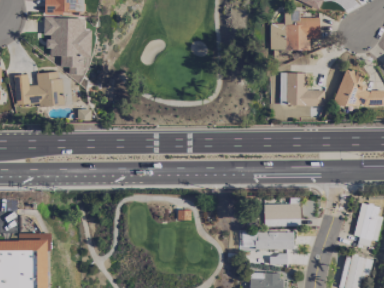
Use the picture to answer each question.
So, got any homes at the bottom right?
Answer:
Yes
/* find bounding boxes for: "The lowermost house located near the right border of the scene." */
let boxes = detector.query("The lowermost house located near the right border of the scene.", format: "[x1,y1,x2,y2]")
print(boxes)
[340,255,374,288]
